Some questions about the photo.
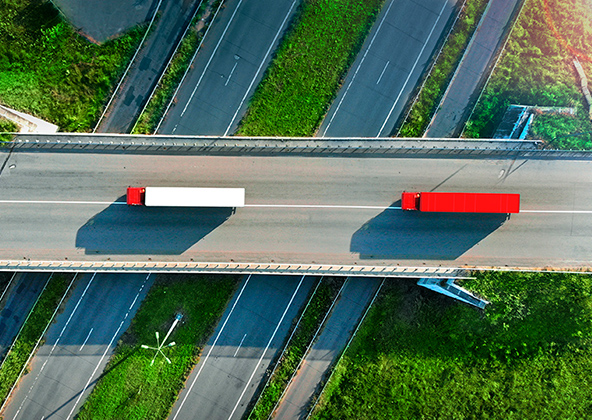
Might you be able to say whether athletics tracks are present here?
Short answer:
No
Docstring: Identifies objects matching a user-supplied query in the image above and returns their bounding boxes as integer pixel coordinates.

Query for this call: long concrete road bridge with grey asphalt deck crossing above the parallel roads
[0,101,576,311]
